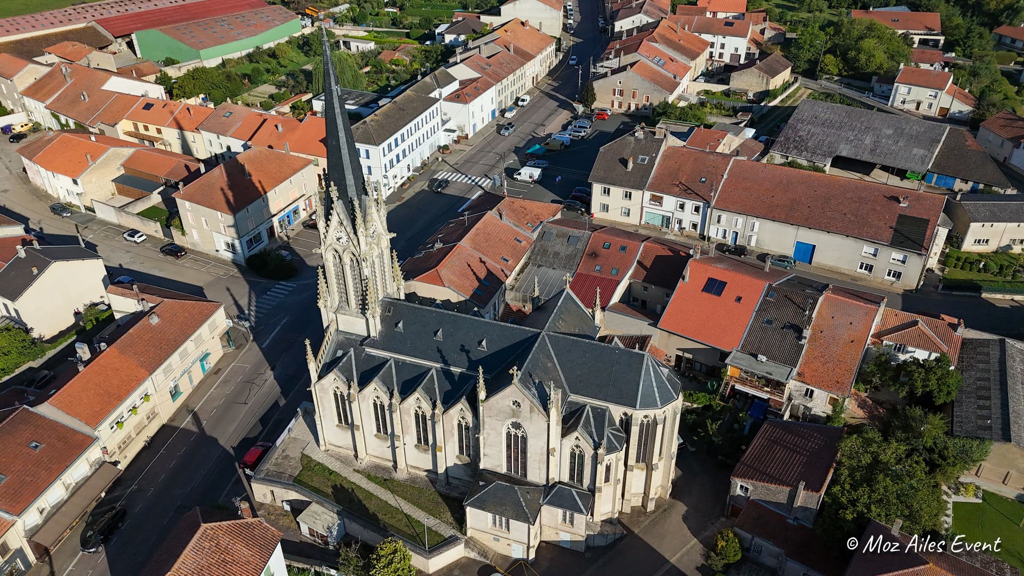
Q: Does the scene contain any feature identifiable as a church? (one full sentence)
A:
Yes, a church can be made out from above.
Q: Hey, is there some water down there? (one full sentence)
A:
No, no water is visible.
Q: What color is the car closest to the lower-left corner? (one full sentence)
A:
In this view, the car closest to the lower-left corner is black.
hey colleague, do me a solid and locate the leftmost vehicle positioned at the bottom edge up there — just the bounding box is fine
[74,497,128,551]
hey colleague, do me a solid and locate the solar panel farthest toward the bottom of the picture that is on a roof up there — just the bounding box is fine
[701,276,727,297]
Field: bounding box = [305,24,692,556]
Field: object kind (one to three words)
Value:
church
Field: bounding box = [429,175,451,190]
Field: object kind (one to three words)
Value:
car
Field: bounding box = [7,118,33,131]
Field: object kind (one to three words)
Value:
vehicle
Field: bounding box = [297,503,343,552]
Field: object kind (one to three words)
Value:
shed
